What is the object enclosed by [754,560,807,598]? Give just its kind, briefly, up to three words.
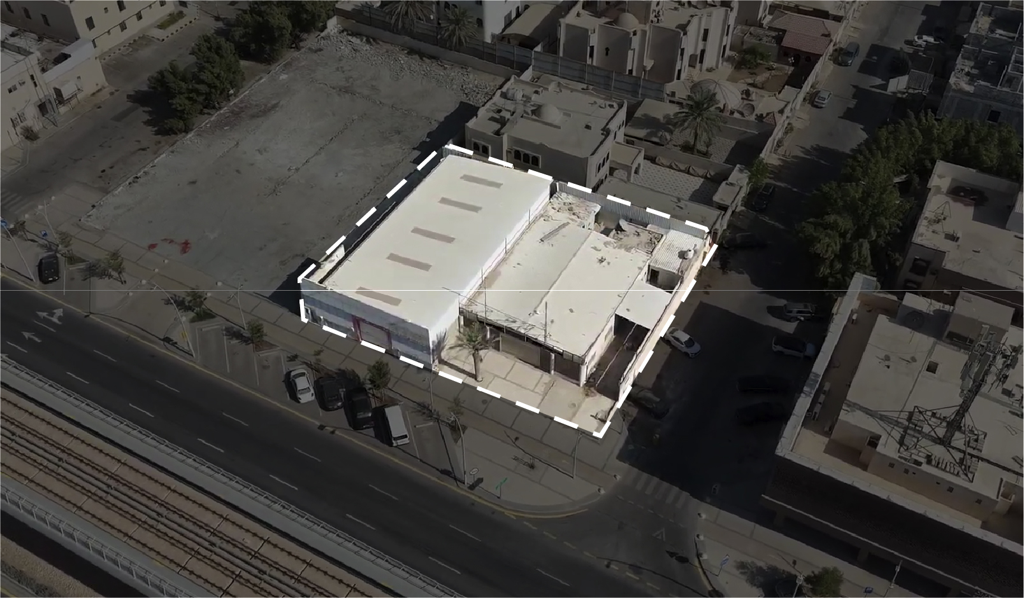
car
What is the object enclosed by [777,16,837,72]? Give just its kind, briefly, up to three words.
house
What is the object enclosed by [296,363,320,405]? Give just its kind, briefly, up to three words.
car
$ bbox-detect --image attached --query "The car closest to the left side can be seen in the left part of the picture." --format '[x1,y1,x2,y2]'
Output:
[39,255,66,287]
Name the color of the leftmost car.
black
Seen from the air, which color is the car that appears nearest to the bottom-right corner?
black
